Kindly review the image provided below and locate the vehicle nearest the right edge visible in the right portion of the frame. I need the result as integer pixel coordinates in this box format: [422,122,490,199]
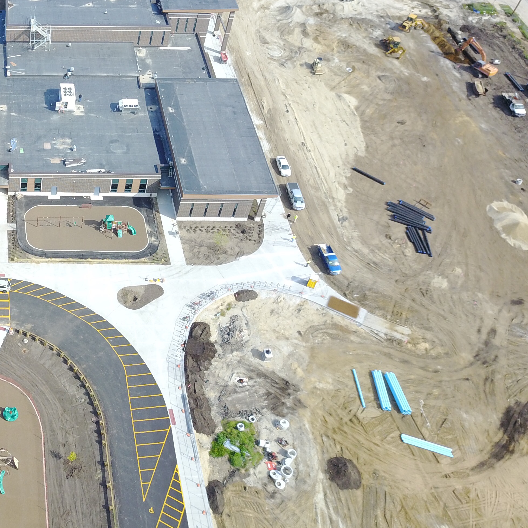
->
[502,92,528,120]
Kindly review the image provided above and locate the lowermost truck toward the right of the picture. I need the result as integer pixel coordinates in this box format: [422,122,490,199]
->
[317,242,342,275]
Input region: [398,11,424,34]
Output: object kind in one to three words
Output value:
work vehicle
